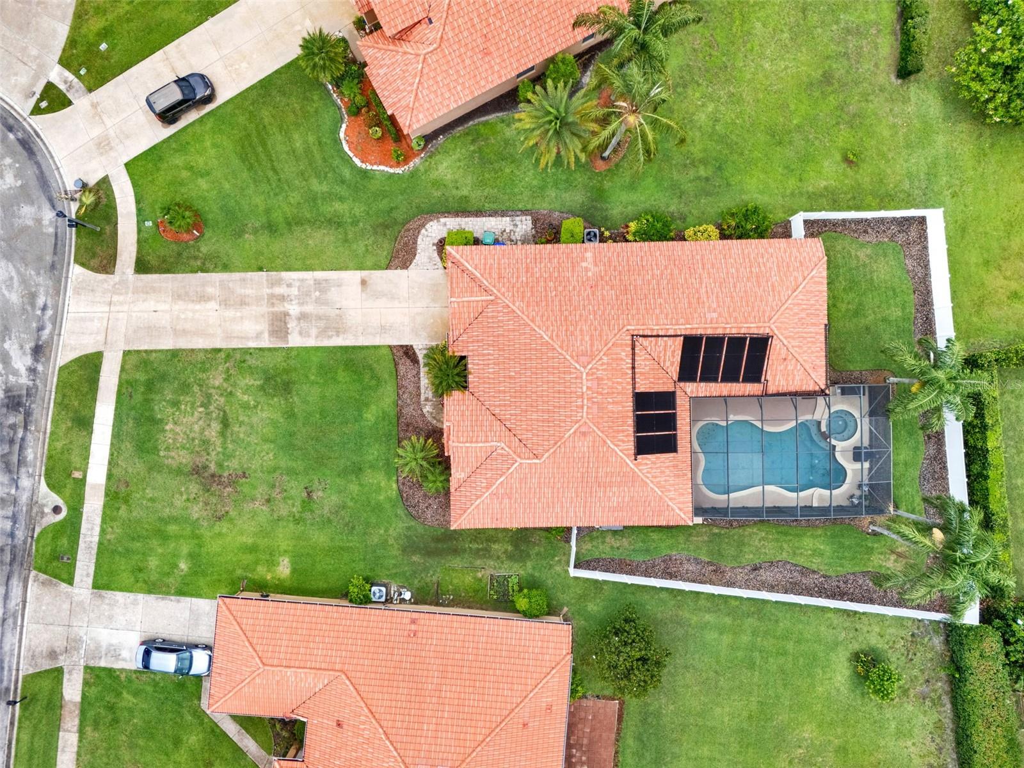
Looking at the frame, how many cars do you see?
2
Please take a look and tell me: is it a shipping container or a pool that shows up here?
pool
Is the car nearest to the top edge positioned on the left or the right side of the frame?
left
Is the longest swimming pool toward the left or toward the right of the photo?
right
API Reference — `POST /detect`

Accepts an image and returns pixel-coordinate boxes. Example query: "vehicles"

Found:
[143,72,216,125]
[136,636,212,678]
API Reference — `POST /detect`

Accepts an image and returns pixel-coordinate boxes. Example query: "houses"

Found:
[355,0,681,140]
[442,237,830,531]
[206,580,574,768]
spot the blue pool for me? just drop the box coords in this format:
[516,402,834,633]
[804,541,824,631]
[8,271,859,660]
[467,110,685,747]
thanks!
[693,404,866,500]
